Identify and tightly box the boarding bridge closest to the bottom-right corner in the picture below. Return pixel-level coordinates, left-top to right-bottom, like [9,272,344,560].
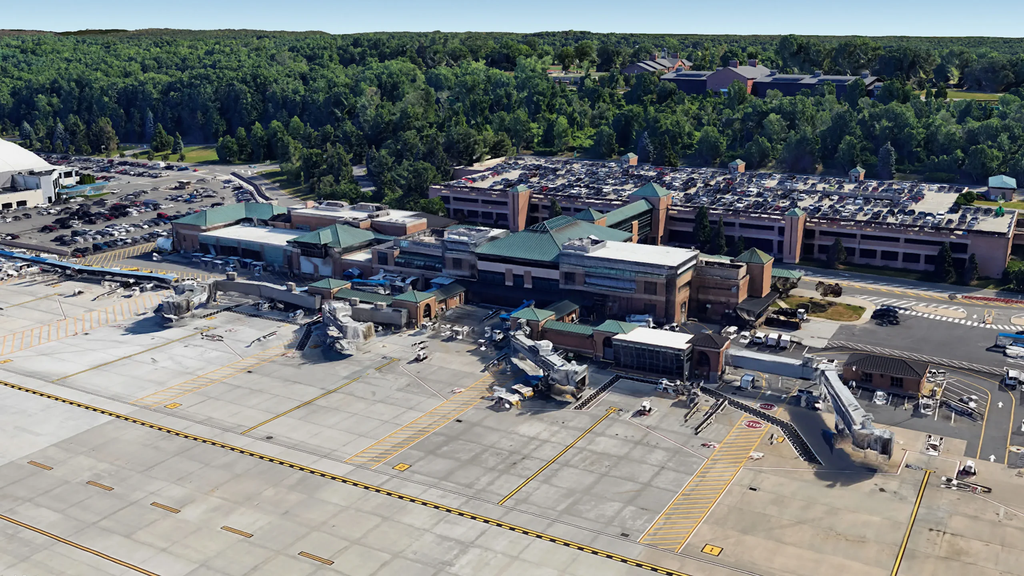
[724,346,888,452]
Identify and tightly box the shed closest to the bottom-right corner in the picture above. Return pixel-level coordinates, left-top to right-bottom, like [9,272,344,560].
[842,350,931,396]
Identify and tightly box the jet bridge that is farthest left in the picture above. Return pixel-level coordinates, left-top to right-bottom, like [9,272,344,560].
[156,273,335,316]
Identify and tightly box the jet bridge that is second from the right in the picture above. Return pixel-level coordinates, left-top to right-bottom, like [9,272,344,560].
[500,320,591,393]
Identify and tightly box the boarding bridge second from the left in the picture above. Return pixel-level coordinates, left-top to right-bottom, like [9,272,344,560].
[332,295,407,345]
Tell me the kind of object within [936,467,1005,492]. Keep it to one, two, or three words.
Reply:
work vehicle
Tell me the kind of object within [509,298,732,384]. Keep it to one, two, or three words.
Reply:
building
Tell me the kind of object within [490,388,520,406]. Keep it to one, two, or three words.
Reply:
work vehicle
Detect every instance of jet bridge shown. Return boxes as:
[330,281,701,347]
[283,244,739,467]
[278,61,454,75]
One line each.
[500,320,591,393]
[724,346,888,452]
[156,273,335,316]
[332,295,407,345]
